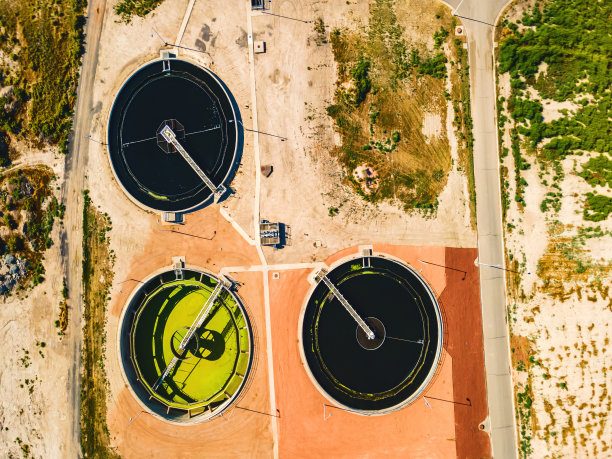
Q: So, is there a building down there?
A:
No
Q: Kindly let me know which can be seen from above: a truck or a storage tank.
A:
storage tank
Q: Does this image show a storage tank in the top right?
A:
No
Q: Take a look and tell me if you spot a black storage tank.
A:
Yes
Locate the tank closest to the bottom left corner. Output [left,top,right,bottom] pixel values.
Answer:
[116,265,252,426]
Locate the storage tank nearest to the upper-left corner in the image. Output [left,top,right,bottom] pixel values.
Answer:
[106,57,240,213]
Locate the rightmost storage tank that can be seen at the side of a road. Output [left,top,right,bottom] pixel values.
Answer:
[298,252,442,414]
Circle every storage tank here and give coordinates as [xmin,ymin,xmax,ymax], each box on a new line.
[106,57,240,213]
[298,252,442,414]
[116,265,252,426]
